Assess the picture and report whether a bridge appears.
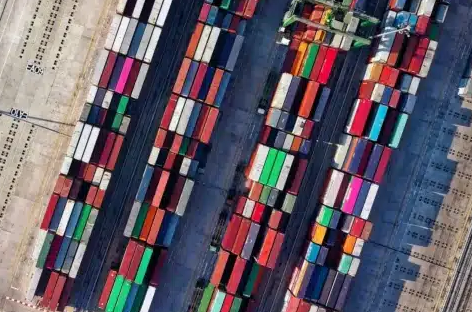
No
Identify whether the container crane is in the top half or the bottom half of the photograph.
top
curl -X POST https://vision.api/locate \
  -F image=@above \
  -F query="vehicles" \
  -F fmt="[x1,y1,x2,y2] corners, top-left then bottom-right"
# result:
[255,71,276,116]
[281,20,295,47]
[208,208,229,253]
[276,20,288,35]
[188,278,205,312]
